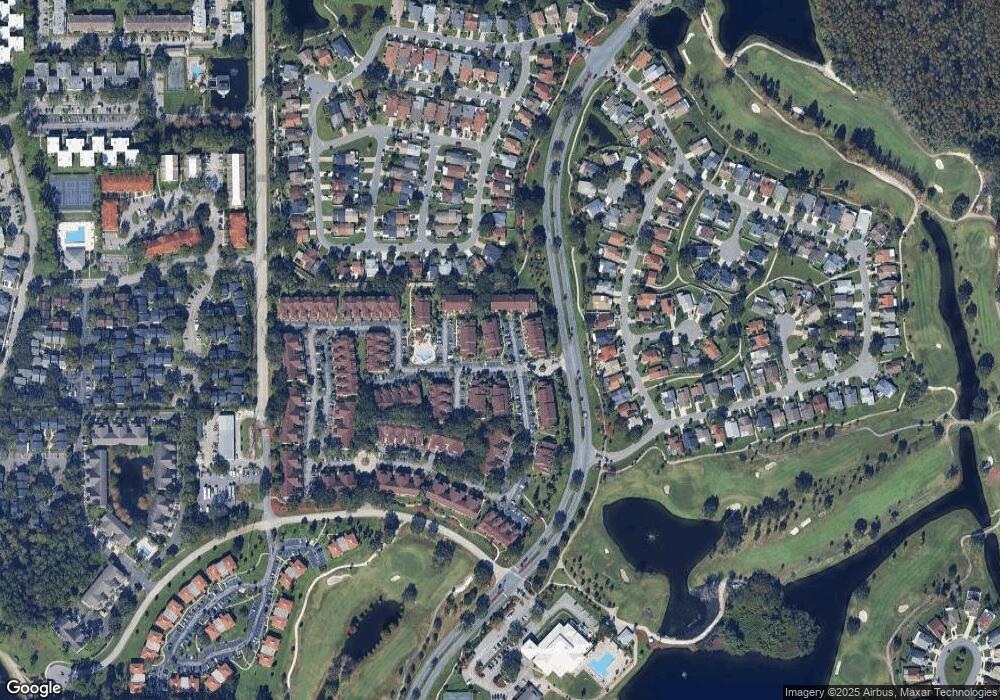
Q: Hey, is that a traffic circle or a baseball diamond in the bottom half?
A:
traffic circle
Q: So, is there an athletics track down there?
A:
No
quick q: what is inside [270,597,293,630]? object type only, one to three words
building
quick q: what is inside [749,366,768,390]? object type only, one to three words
house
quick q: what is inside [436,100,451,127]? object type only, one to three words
house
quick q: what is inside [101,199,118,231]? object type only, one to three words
building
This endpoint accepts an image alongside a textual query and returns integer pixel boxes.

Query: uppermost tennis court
[167,57,185,90]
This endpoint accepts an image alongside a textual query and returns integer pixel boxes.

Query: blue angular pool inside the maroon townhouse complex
[411,334,434,364]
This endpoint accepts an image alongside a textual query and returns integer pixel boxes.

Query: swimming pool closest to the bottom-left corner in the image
[137,538,157,560]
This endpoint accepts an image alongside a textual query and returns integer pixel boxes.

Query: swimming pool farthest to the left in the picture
[58,222,94,251]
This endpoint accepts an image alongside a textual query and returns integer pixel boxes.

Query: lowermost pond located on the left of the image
[344,599,402,661]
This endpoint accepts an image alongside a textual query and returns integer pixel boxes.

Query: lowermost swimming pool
[586,637,634,692]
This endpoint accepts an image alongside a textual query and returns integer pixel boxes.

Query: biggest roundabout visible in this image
[934,638,986,696]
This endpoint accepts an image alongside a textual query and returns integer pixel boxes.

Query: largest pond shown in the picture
[603,497,724,639]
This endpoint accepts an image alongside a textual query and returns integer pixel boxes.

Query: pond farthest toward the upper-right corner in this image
[647,9,690,78]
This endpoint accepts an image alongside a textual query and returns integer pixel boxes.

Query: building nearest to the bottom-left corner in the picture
[54,611,88,648]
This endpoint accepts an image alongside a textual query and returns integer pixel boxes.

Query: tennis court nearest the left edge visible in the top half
[51,174,94,209]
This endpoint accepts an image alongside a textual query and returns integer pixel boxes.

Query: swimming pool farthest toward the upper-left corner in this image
[188,58,205,80]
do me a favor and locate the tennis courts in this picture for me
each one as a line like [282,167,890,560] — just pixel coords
[443,692,473,700]
[167,57,185,90]
[51,174,94,209]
